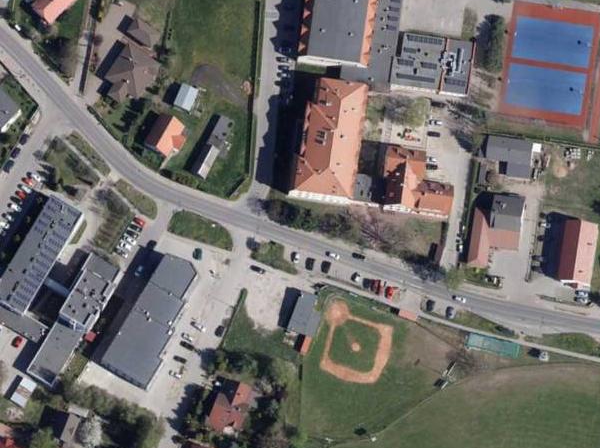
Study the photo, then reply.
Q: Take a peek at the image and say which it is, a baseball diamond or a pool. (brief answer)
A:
baseball diamond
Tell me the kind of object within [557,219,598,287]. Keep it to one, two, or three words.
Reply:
house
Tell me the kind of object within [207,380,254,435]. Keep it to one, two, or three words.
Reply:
house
